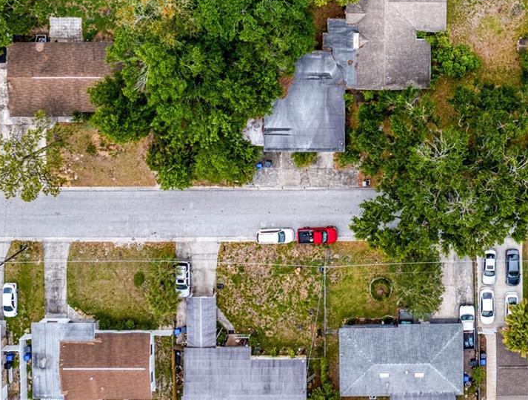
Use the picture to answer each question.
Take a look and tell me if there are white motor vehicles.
Yes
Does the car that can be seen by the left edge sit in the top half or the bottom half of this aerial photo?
bottom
